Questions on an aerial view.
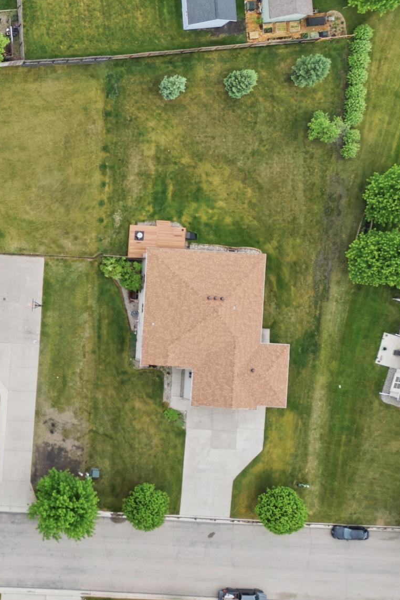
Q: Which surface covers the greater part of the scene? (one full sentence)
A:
The scene is dominated by grass.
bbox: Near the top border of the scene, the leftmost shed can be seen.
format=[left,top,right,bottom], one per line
[179,0,238,31]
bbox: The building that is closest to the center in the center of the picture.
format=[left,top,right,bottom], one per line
[135,247,290,410]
